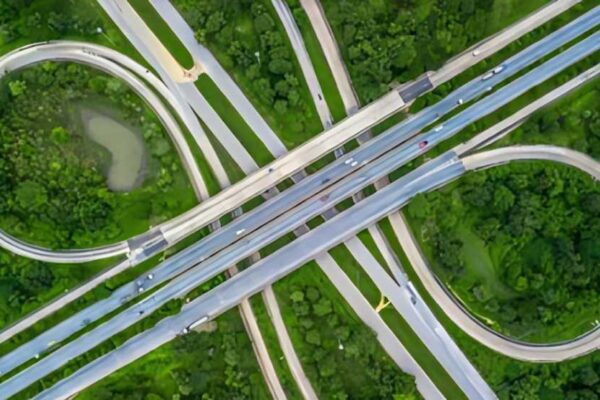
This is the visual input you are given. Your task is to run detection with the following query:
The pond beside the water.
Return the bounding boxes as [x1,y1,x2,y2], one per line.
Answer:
[88,117,142,190]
